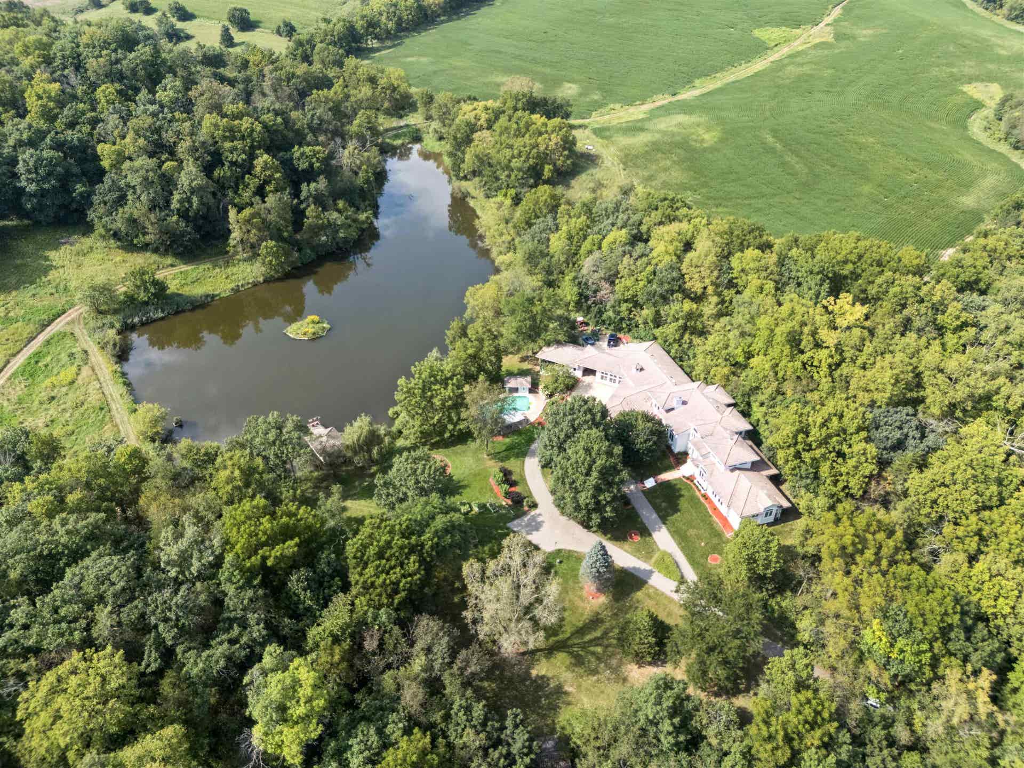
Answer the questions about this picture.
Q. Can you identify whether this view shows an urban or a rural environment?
rural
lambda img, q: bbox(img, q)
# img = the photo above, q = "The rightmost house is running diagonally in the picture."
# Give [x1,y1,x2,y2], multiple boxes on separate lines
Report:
[535,340,788,527]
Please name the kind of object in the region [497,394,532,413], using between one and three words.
swimming pool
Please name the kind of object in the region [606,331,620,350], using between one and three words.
car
